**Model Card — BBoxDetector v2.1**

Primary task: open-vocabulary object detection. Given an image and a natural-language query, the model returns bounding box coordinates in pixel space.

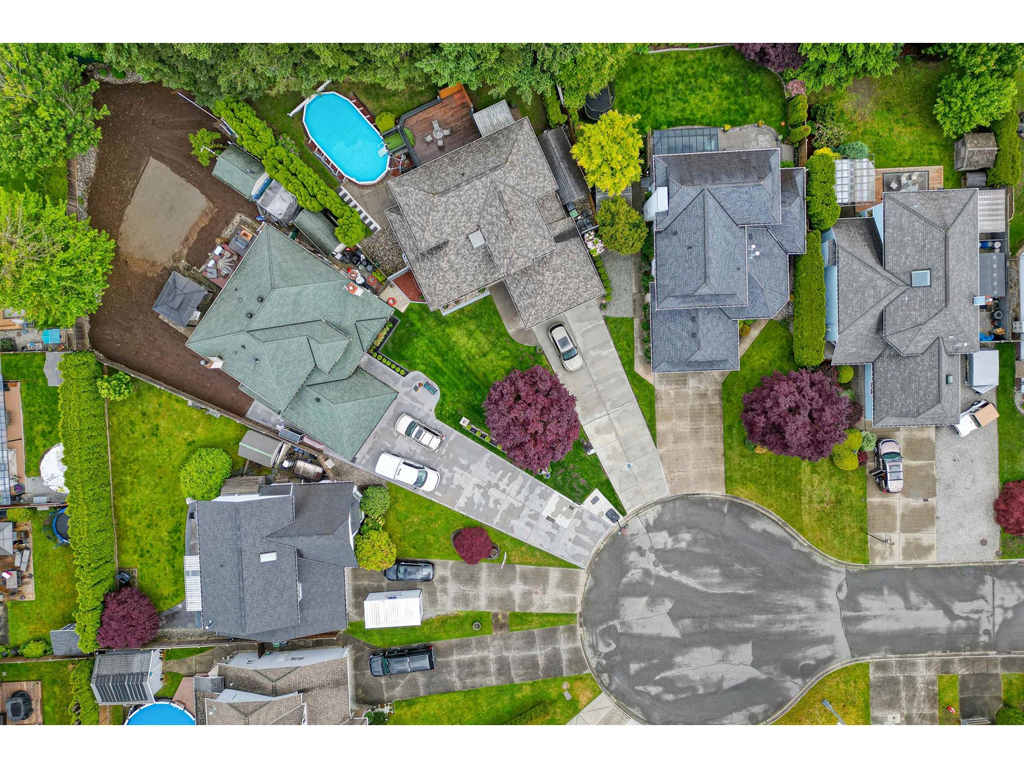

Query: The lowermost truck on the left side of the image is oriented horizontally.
[370,644,437,676]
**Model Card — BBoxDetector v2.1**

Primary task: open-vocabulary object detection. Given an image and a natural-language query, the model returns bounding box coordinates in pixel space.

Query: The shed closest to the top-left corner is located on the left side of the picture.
[210,141,271,203]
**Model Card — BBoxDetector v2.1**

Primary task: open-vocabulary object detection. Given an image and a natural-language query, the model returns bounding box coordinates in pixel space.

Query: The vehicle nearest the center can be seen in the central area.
[546,320,581,375]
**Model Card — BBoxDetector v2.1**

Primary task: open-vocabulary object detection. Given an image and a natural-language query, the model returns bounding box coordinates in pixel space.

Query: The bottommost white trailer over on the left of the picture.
[363,590,441,629]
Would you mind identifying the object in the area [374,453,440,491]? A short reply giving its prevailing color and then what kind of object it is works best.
white truck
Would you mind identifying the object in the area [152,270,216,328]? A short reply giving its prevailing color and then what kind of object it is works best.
gray gazebo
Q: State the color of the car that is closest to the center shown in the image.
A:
white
